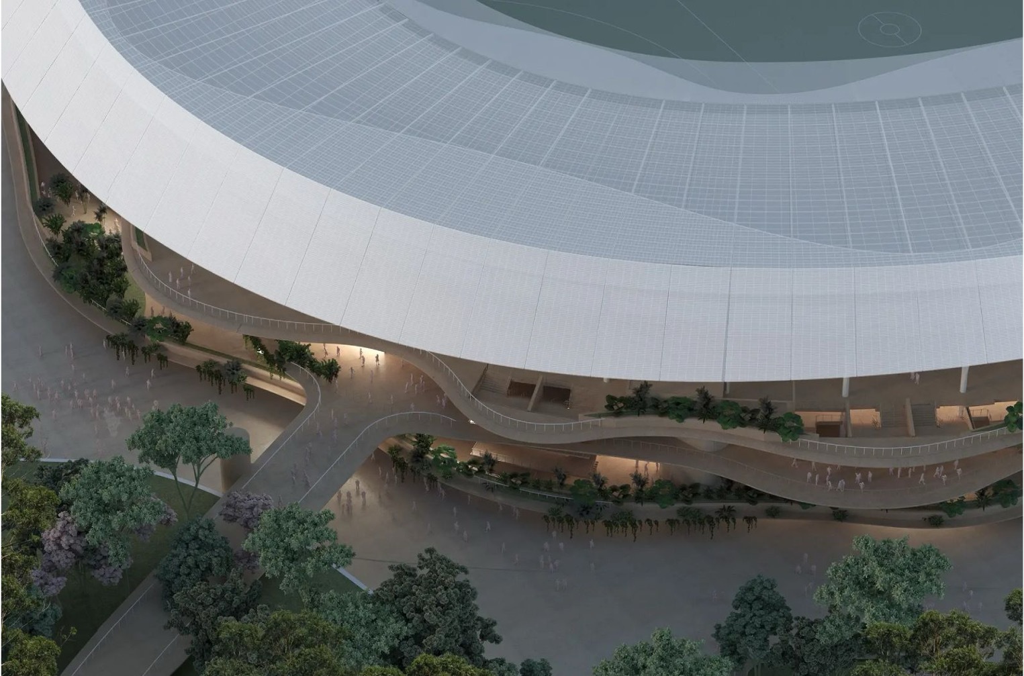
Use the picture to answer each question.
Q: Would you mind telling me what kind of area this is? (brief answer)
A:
sports ground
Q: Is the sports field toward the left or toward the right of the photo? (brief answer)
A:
right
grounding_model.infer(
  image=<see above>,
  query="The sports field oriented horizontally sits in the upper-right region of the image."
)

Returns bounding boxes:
[473,0,1024,64]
